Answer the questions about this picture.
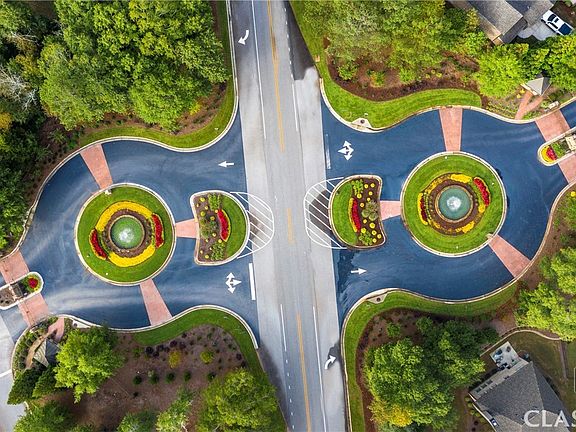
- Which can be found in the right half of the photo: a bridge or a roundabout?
roundabout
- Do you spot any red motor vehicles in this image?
No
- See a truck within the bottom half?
No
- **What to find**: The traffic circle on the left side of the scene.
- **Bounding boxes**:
[0,94,258,347]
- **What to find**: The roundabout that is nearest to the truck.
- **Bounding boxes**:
[320,76,576,338]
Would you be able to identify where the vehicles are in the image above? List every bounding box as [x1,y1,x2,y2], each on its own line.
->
[542,9,574,38]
